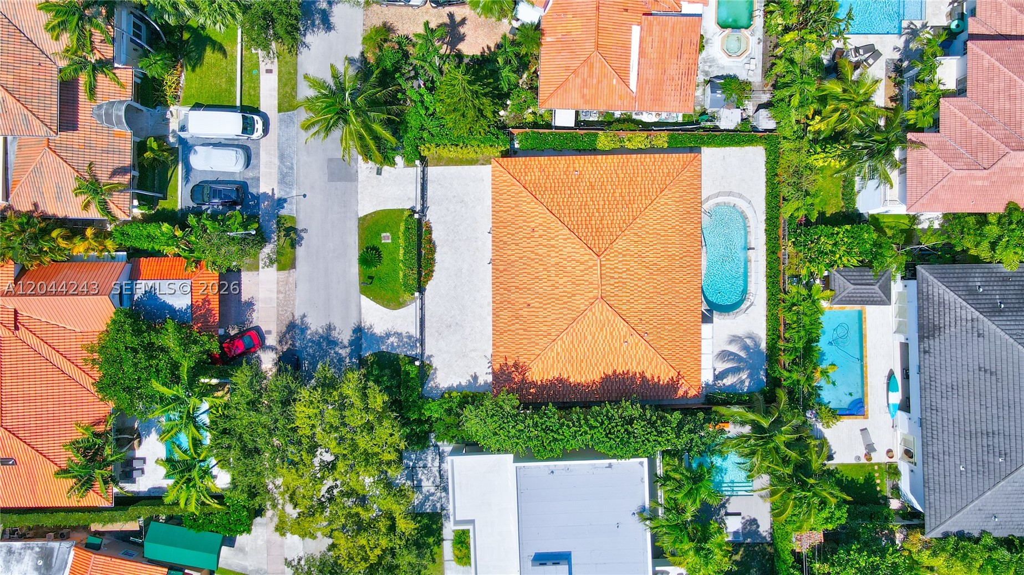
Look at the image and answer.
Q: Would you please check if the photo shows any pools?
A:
Yes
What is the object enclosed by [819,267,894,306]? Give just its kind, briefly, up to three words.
gazebo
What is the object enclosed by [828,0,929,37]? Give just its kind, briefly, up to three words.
swimming pool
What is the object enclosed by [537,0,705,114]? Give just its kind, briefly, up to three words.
house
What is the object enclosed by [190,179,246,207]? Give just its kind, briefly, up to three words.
car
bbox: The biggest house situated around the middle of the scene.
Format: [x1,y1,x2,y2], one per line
[490,153,704,402]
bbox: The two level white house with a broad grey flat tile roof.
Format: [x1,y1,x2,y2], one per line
[885,264,1024,538]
